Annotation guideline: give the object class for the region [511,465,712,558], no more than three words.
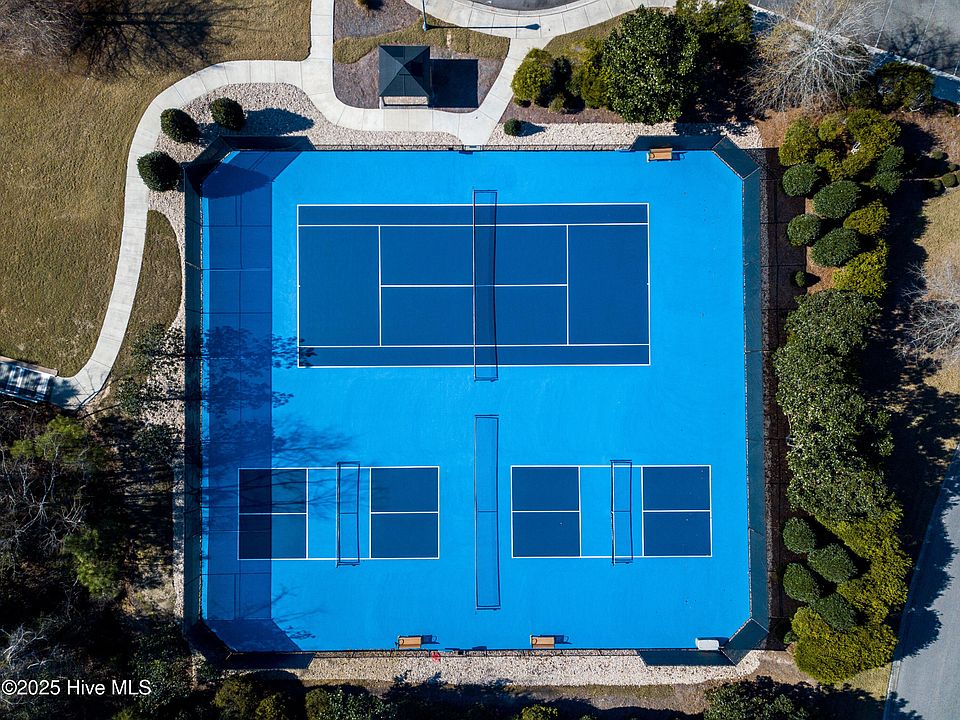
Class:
sports court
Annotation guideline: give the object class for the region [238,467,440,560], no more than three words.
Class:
sports court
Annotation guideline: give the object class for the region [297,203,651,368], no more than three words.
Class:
tennis court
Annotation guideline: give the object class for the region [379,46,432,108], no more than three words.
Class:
building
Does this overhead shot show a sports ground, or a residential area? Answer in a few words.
sports ground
